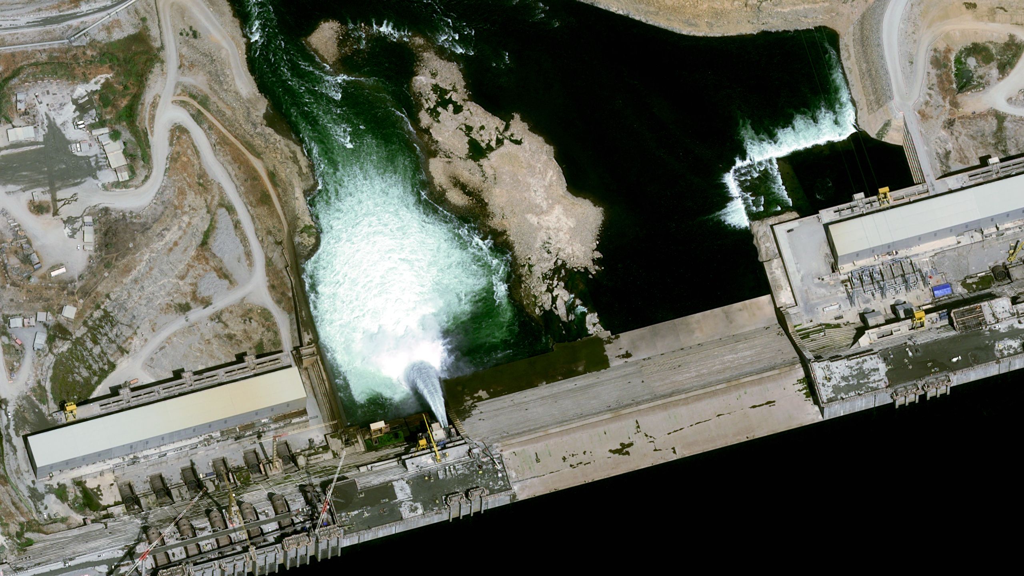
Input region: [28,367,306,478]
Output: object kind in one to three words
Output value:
building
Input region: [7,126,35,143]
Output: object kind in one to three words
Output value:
shed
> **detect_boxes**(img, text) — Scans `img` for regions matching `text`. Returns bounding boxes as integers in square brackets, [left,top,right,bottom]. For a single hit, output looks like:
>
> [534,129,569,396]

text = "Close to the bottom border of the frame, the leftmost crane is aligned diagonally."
[122,488,205,576]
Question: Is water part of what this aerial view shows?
Yes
